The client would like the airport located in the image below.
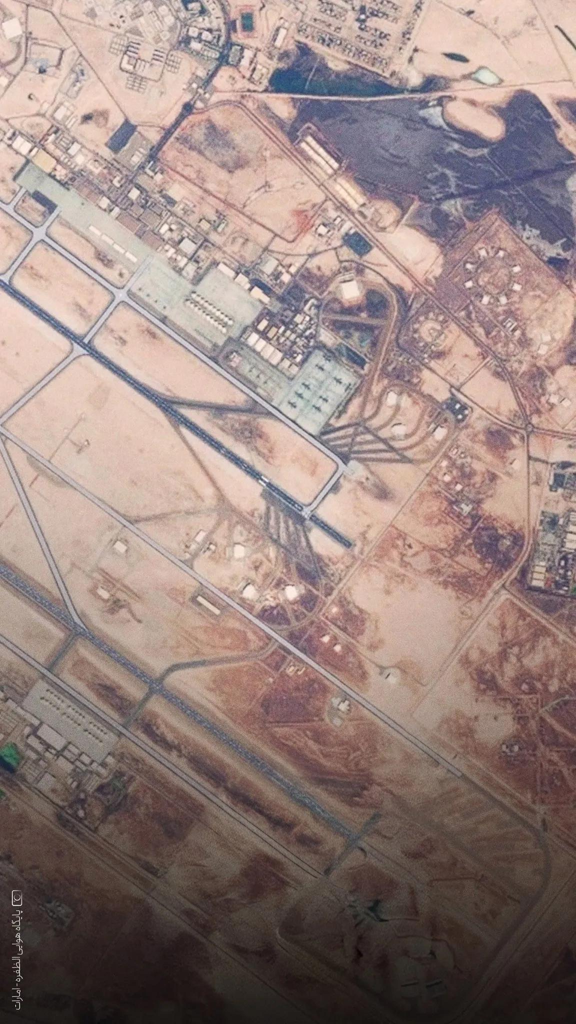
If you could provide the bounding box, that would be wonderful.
[0,160,552,926]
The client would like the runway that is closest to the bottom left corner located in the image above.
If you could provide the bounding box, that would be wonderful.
[0,567,358,844]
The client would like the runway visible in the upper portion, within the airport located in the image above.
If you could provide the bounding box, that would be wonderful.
[0,281,305,511]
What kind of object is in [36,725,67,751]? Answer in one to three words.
hangar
